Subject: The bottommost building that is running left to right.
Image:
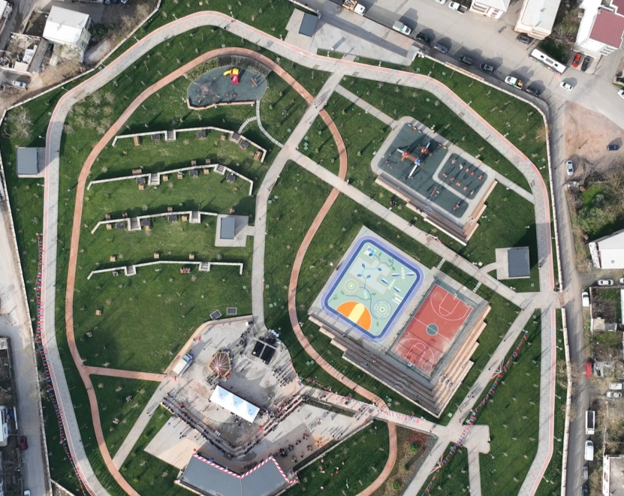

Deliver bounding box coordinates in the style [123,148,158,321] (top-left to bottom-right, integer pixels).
[181,454,289,496]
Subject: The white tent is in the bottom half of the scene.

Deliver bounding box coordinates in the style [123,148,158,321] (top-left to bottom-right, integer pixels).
[210,385,260,422]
